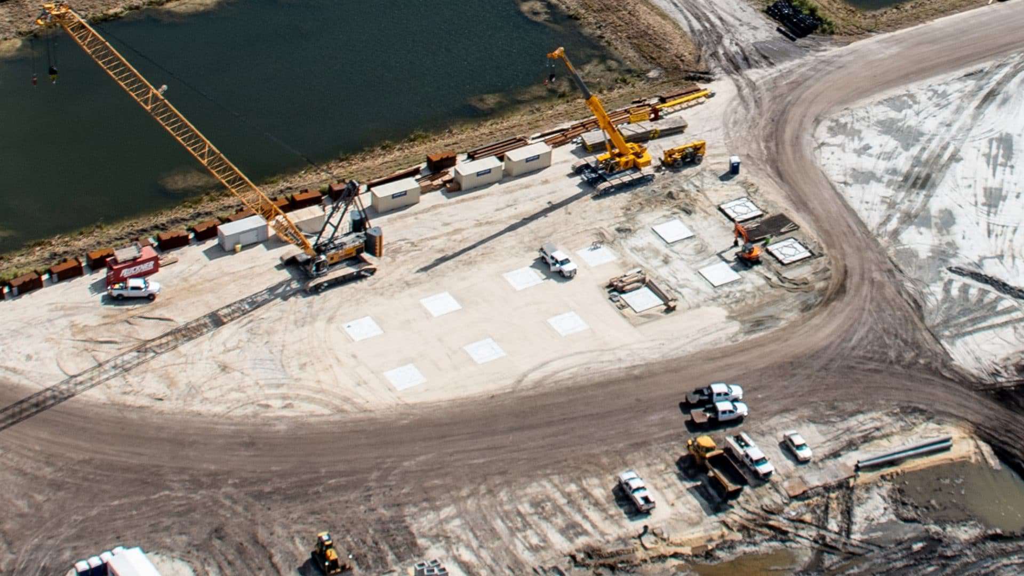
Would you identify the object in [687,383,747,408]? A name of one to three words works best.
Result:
truck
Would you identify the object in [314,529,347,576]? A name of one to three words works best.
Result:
work vehicle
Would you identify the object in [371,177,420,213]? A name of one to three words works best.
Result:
shipping container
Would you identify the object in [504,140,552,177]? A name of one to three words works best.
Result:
shipping container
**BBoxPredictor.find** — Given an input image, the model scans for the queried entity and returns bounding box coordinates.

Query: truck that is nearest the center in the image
[540,249,580,278]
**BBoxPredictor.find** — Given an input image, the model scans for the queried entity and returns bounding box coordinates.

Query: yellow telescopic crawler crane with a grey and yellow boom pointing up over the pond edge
[550,47,656,194]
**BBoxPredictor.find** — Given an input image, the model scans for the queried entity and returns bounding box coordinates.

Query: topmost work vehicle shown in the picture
[654,137,708,169]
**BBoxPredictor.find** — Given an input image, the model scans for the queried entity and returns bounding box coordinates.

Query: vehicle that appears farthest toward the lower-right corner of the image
[782,432,813,464]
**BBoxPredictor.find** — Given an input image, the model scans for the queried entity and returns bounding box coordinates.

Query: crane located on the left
[39,5,386,294]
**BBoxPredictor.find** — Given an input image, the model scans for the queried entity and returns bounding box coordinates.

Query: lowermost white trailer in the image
[112,547,159,576]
